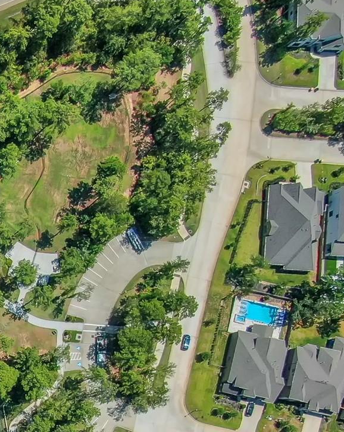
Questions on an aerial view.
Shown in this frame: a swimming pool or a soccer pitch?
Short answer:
swimming pool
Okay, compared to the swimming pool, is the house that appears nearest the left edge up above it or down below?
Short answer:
below it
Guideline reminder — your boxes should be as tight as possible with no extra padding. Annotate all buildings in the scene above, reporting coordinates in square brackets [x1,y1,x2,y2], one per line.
[287,0,344,57]
[326,186,344,257]
[218,324,287,403]
[259,180,325,271]
[283,337,344,413]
